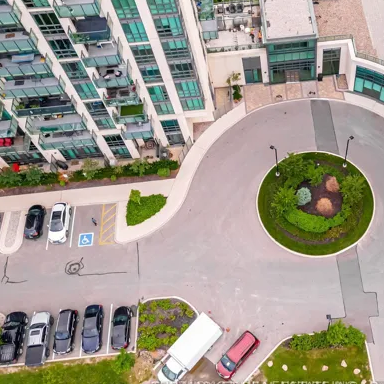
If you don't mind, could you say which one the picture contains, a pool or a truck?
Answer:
truck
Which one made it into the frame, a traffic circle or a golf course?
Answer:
traffic circle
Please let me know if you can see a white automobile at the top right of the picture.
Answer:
No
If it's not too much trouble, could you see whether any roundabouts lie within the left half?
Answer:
No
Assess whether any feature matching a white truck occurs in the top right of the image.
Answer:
No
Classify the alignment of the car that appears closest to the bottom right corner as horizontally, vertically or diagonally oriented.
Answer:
diagonally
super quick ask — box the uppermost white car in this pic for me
[47,204,72,246]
